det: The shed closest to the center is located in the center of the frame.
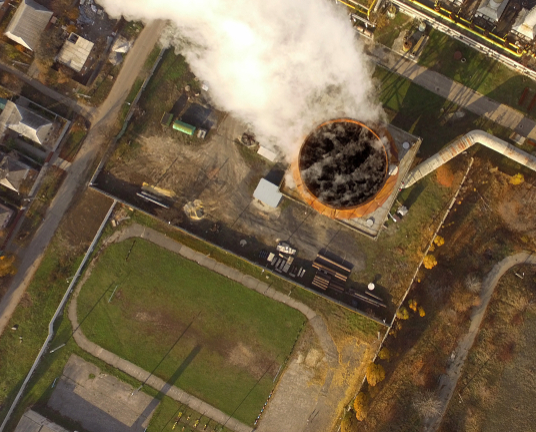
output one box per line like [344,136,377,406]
[256,181,280,205]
